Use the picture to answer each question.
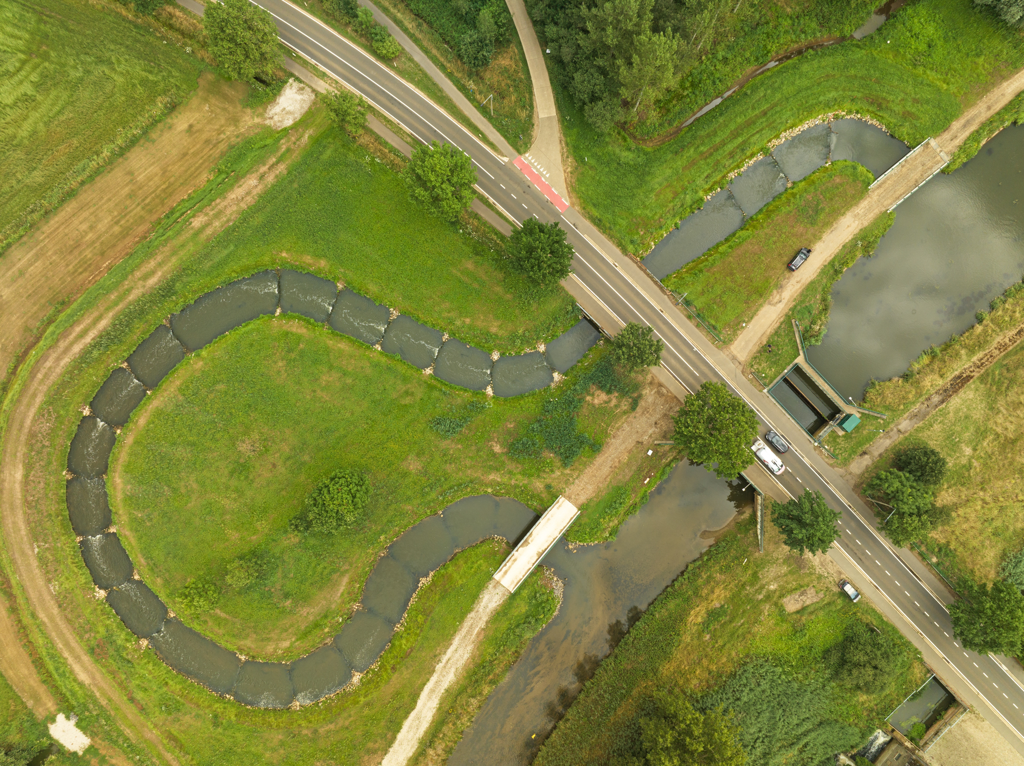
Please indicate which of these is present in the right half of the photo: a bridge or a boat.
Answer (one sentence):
It is a bridge that can be seen in the right half of the photo.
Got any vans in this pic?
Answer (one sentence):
Yes, a van is visible in the scene.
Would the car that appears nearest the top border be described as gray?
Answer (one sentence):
Yes, gray is the color of the car that appears nearest the top border.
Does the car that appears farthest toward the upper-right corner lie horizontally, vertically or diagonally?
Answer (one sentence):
The car that appears farthest toward the upper-right corner has been laid out diagonally relative to the frame.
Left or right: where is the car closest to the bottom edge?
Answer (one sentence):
You can find the car closest to the bottom edge on the right side of the picture.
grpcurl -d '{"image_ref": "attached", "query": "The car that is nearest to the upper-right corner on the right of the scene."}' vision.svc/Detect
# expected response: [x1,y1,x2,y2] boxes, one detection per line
[786,247,810,273]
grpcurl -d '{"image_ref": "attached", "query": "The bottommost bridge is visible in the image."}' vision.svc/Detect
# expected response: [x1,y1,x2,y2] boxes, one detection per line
[492,495,580,594]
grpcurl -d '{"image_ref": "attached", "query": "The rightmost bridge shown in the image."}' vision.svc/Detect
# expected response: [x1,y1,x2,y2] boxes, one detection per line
[868,135,954,212]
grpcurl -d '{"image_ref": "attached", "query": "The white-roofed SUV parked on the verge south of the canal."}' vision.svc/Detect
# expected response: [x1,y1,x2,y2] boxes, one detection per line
[836,579,860,603]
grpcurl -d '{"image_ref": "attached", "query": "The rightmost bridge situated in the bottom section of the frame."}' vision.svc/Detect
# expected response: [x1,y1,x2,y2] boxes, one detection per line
[713,390,814,551]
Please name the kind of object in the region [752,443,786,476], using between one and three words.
van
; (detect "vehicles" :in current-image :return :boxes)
[786,247,810,273]
[836,579,860,603]
[764,431,789,455]
[752,443,786,476]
